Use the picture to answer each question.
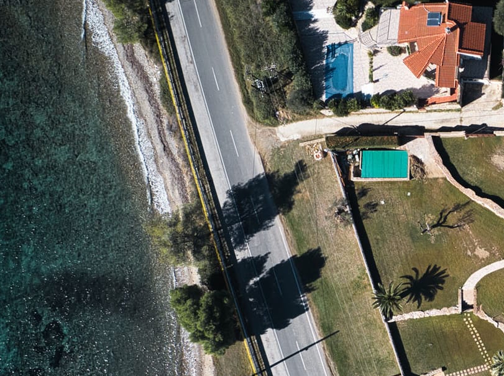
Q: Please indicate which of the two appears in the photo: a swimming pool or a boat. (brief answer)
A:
swimming pool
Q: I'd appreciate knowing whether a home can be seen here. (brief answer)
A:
Yes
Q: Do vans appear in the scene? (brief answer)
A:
No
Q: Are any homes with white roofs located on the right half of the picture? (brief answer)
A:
No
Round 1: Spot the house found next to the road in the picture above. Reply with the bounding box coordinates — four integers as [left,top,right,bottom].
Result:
[398,2,485,106]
